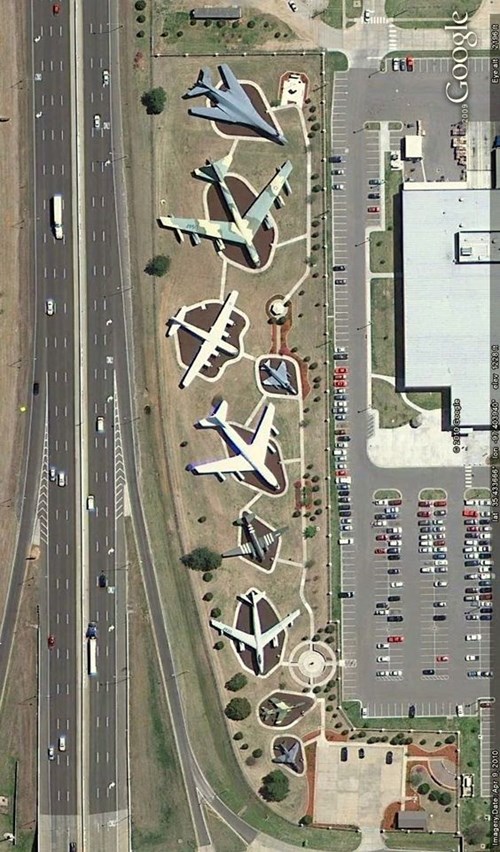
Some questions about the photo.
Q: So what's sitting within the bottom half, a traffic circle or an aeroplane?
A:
aeroplane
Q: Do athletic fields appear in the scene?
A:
No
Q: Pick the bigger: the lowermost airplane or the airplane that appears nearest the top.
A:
the airplane that appears nearest the top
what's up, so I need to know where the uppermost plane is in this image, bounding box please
[186,65,287,141]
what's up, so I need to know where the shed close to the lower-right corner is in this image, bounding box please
[399,811,426,829]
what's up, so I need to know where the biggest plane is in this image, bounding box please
[161,153,292,266]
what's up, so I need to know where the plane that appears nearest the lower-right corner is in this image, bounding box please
[274,739,300,772]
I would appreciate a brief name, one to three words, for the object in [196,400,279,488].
airplane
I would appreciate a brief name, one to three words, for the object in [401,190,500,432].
building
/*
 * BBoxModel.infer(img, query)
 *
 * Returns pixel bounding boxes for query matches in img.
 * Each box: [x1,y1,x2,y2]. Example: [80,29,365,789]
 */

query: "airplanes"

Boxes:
[186,65,287,141]
[211,589,299,672]
[161,153,292,266]
[260,698,305,724]
[274,739,300,772]
[255,359,296,393]
[170,288,240,387]
[196,400,279,488]
[220,515,289,562]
